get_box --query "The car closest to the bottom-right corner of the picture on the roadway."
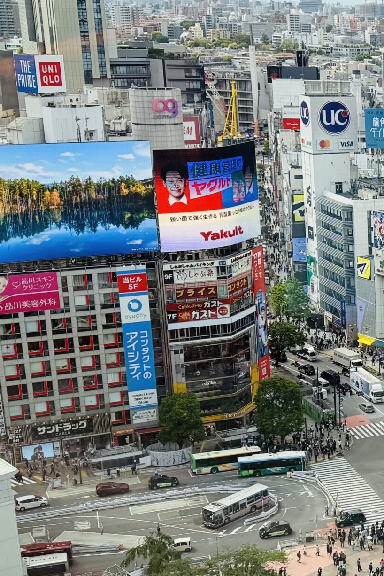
[332,508,368,529]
